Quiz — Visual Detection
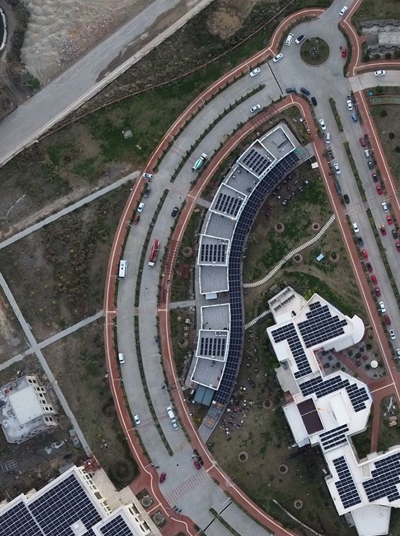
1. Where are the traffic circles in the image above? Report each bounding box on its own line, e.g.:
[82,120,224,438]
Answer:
[299,37,327,65]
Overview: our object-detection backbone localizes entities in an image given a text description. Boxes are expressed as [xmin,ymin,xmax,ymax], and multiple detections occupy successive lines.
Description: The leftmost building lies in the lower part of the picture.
[0,376,57,443]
